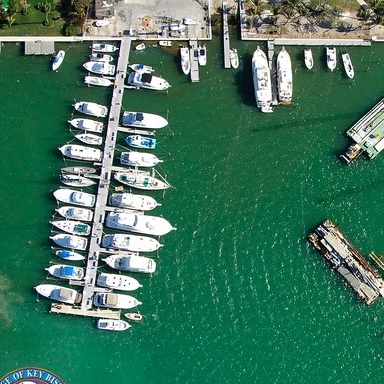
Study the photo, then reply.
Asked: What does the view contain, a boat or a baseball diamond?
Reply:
boat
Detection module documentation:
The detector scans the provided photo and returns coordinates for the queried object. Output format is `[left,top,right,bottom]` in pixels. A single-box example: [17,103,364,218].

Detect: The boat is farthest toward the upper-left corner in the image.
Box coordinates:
[53,49,65,70]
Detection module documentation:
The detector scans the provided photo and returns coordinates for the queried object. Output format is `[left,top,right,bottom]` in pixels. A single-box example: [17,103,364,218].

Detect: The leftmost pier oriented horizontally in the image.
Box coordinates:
[25,42,54,55]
